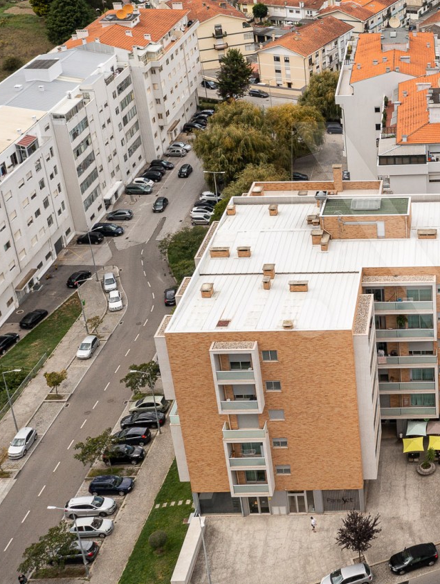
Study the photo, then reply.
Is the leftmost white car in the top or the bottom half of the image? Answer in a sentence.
The bottom half of the photo is where the leftmost white car is.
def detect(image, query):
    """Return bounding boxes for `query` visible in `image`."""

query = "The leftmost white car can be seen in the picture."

[8,428,38,461]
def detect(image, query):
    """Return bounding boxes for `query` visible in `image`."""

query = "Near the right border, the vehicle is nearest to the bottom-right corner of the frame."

[388,543,440,576]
